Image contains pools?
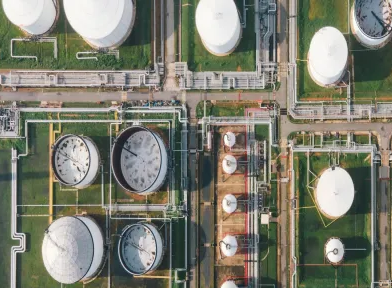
No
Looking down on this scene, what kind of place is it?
industrial area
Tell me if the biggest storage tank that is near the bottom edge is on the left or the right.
left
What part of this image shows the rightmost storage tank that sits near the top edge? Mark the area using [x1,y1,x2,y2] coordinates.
[349,0,392,50]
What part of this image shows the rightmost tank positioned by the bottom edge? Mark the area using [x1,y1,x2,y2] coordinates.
[117,221,164,276]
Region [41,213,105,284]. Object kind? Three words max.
storage tank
